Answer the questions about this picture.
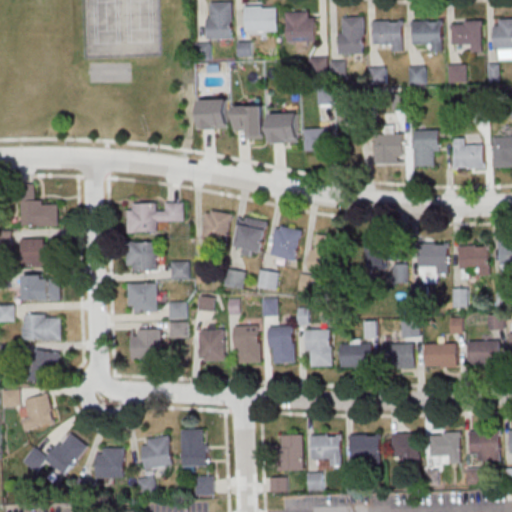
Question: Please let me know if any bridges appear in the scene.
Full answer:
No, the frame has no bridge in it.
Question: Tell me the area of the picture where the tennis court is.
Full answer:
The tennis court sits in the top left section of the image.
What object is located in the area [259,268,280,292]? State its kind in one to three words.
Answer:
building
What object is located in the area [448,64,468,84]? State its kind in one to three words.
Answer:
building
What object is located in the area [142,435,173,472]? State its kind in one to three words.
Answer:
house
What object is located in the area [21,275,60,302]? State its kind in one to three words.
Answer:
house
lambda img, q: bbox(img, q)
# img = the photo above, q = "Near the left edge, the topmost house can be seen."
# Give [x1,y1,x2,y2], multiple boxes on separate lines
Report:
[20,184,58,228]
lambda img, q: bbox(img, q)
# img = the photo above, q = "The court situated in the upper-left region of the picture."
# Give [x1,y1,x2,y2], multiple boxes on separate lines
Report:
[86,0,160,57]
